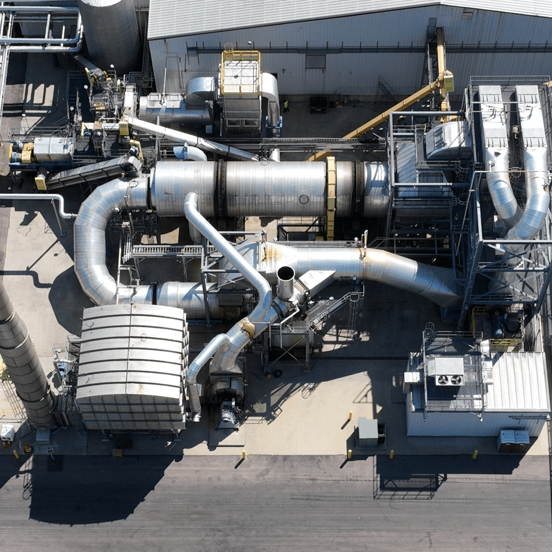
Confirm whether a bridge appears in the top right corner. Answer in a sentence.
No, no bridge can be made out in the top right corner.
